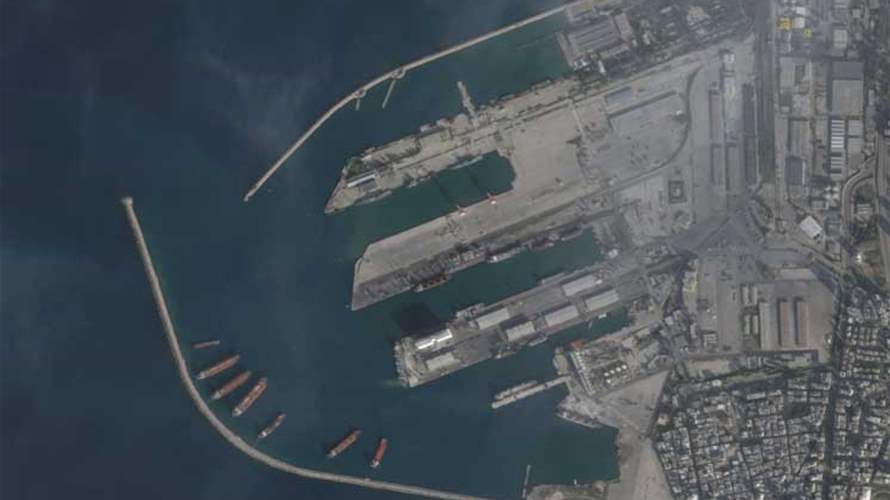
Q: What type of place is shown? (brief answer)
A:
port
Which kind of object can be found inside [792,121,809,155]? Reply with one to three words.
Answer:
building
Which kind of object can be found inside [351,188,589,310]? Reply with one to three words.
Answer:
pier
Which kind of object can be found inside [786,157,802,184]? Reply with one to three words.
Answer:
building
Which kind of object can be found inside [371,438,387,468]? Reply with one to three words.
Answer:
ship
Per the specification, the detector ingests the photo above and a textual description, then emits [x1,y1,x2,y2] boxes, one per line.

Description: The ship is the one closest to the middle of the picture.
[414,277,450,292]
